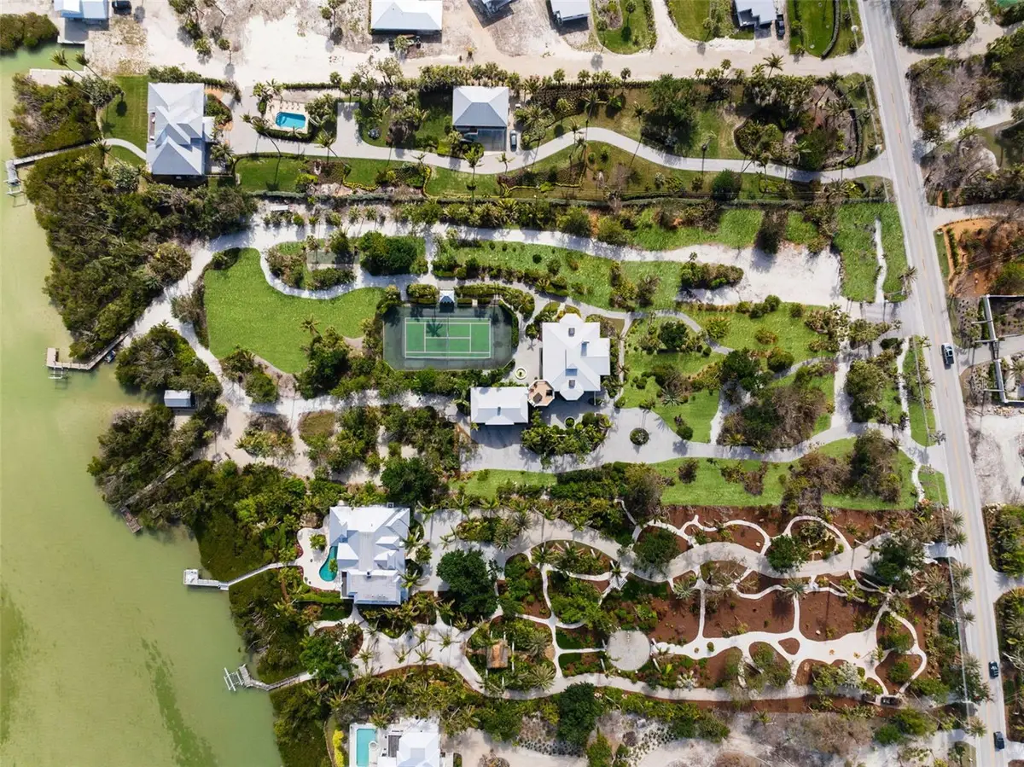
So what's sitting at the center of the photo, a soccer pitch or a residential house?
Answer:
residential house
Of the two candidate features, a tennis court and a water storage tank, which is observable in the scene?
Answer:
tennis court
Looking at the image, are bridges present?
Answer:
No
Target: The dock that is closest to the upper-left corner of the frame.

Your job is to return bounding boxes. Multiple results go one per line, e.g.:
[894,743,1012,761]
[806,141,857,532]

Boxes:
[4,140,97,182]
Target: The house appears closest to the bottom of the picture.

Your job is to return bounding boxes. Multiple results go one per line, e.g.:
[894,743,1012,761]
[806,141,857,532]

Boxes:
[378,729,442,767]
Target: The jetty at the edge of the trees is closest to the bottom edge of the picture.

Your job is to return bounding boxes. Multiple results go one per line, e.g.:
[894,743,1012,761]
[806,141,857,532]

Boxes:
[238,665,312,692]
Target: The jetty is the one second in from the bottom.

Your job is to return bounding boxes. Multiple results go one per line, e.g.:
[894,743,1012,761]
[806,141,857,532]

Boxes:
[182,562,276,591]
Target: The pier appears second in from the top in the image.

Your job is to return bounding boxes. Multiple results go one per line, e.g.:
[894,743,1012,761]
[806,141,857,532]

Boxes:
[45,333,129,371]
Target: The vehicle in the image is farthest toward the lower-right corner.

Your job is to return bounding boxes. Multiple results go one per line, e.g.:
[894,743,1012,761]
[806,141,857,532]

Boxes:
[995,731,1007,752]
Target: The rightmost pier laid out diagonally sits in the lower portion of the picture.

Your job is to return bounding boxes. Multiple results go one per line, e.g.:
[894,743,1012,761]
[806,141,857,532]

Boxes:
[118,451,199,533]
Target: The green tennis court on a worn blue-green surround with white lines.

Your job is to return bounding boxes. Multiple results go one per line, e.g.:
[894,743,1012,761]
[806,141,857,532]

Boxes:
[381,304,518,370]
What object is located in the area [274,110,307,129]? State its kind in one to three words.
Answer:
swimming pool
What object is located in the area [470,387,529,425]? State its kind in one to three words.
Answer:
building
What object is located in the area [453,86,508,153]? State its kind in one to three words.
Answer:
house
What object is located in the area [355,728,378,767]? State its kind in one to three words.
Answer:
swimming pool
